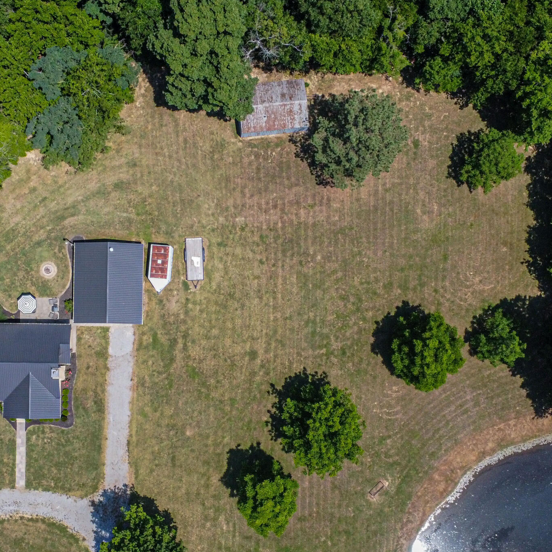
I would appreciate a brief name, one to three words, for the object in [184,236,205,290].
trailer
